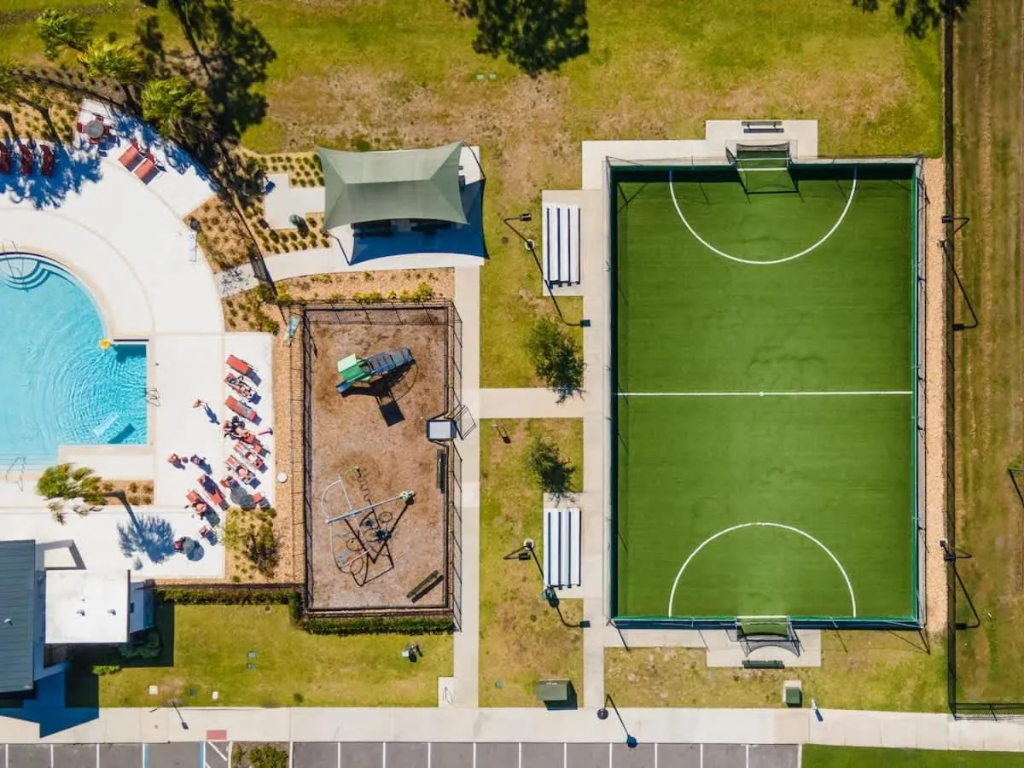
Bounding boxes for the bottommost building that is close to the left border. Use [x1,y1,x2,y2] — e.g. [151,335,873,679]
[0,538,158,693]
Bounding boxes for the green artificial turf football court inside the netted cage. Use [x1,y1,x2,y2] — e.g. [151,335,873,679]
[612,147,913,639]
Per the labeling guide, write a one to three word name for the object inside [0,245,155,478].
swimming pool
